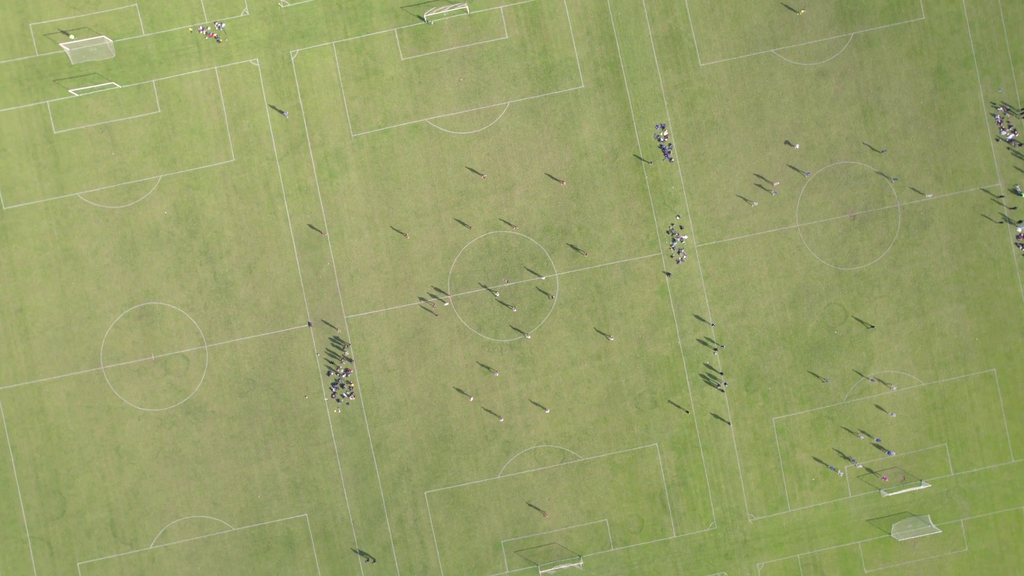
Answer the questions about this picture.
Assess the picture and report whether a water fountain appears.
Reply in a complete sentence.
No, no water fountain is visible in the scene.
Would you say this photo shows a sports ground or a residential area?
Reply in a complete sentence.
What you see here is a sports ground.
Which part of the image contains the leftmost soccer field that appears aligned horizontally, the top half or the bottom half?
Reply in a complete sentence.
The top half of the photo is where the leftmost soccer field that appears aligned horizontally is.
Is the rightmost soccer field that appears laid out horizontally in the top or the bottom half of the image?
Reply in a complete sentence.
Seen from above, the rightmost soccer field that appears laid out horizontally lies in the bottom half of the view.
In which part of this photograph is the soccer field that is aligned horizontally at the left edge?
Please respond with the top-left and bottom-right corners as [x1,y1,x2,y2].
[0,0,249,63]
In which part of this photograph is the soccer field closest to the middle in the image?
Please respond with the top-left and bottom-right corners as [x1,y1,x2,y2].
[290,0,717,576]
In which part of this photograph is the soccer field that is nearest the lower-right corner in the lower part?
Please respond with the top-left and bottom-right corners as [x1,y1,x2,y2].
[757,507,1024,576]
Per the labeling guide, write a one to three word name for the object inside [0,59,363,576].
soccer field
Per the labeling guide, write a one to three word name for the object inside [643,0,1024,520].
soccer field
